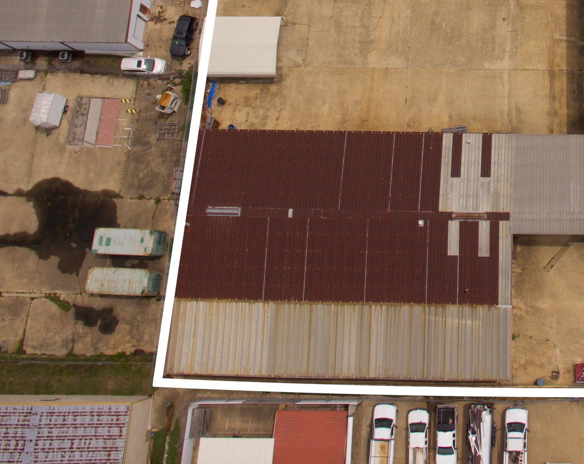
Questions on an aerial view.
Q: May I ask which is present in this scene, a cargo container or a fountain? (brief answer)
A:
cargo container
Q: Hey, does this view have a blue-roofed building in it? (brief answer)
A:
No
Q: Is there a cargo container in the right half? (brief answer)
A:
No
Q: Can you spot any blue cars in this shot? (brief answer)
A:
No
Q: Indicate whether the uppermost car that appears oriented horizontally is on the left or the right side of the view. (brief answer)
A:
left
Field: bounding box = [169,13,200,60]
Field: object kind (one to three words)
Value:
car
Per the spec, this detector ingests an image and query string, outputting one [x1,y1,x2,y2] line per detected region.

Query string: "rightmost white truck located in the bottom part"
[502,405,529,464]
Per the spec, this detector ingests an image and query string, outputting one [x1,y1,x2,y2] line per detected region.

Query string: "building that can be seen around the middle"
[164,127,512,380]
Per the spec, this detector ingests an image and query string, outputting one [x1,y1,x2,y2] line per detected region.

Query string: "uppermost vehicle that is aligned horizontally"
[118,55,170,78]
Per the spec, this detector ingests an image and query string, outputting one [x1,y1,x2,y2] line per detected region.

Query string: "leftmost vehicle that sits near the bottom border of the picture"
[370,402,397,464]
